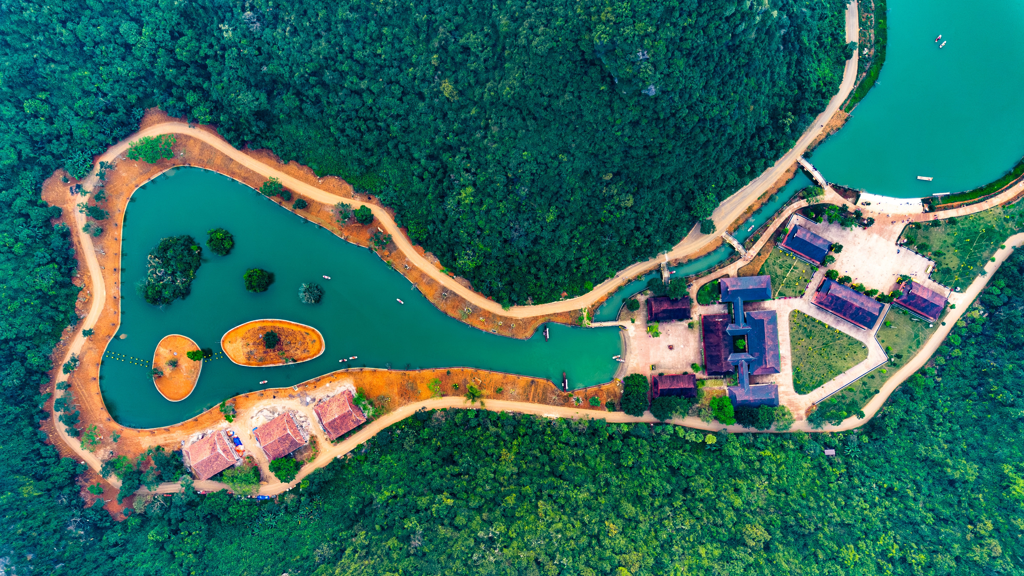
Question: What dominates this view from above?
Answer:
trees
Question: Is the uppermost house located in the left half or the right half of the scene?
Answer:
right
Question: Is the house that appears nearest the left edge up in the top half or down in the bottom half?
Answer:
bottom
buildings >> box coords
[253,410,311,463]
[313,389,366,441]
[728,385,780,410]
[647,296,691,321]
[744,310,780,375]
[811,276,884,330]
[719,275,772,302]
[702,313,735,377]
[893,283,948,320]
[184,428,242,480]
[653,375,696,398]
[781,224,833,264]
